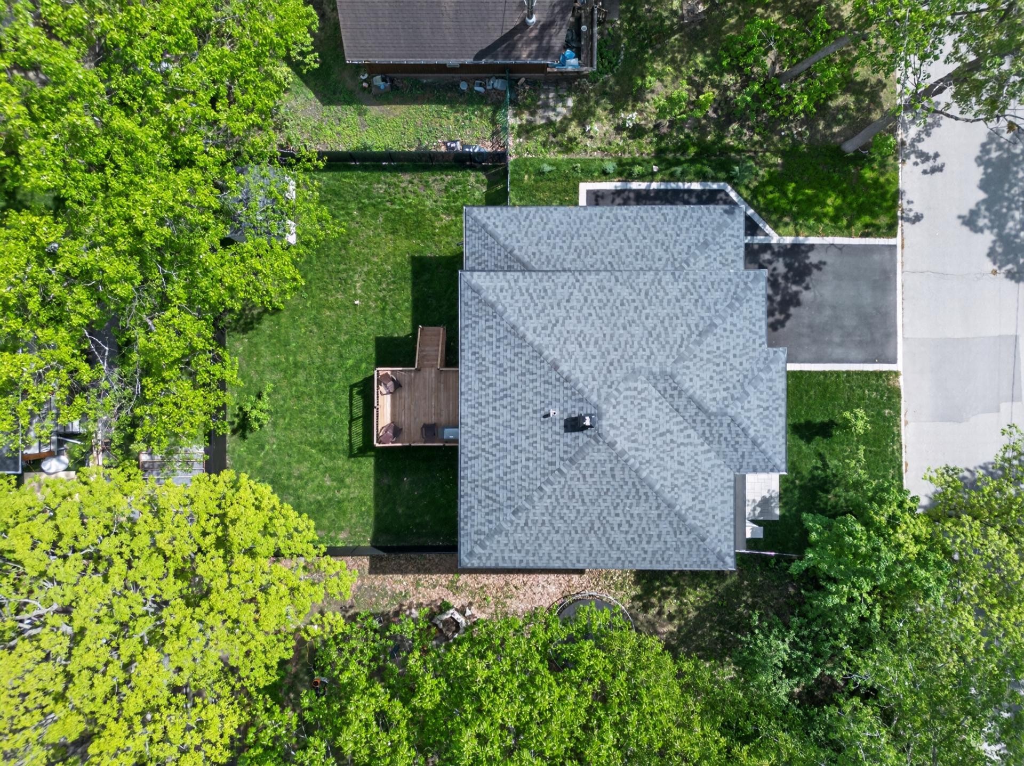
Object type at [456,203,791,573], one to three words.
house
